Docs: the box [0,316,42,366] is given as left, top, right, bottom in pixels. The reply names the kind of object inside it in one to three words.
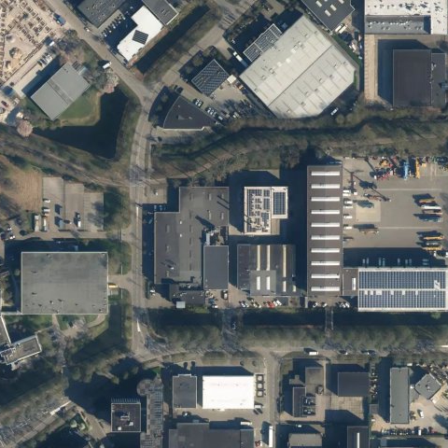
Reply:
building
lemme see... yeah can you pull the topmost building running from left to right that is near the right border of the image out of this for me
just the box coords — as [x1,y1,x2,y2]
[364,0,447,36]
